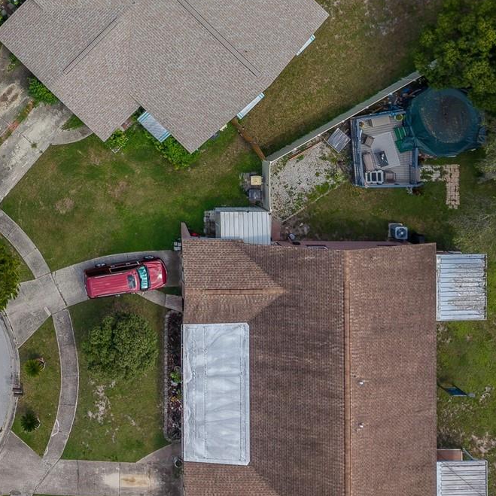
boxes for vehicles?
[82,255,167,299]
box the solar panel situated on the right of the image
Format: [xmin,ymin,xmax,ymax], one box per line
[328,128,353,152]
